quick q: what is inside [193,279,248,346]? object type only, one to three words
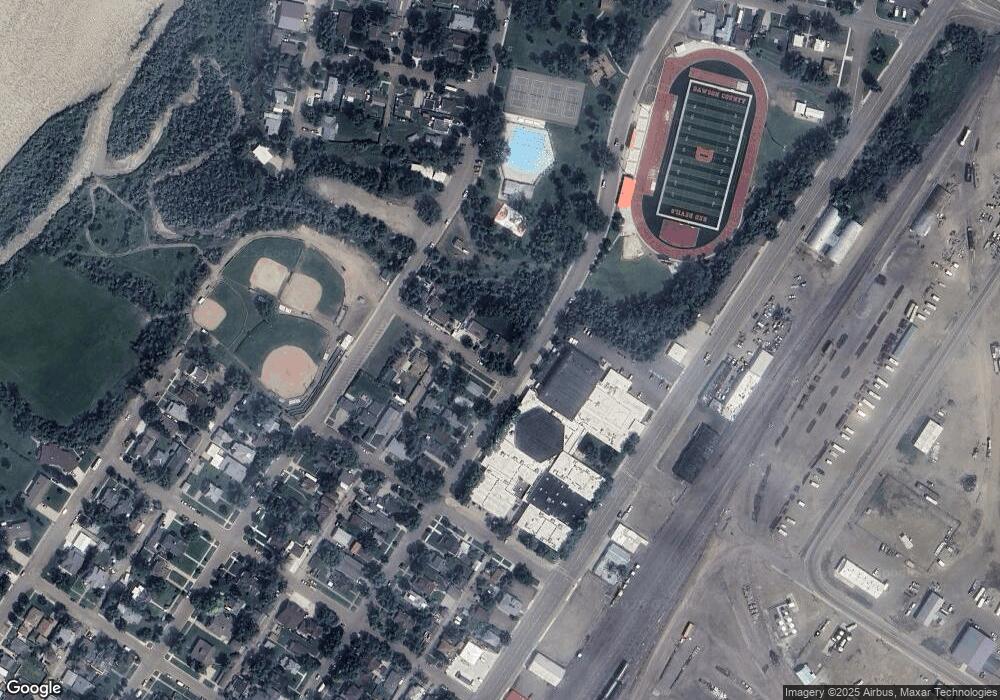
baseball field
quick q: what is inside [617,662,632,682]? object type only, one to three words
rail car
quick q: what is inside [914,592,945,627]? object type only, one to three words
building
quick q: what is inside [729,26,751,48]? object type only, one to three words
house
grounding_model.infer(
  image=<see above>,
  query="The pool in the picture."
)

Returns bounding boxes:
[501,121,554,185]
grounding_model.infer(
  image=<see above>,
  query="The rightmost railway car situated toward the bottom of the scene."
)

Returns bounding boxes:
[682,621,695,638]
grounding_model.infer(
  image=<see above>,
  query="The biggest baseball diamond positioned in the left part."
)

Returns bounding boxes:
[234,314,328,405]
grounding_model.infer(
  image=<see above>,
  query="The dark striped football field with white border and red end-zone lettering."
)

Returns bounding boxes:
[657,80,752,229]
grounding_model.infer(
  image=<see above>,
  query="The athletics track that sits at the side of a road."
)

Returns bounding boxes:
[630,49,769,260]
